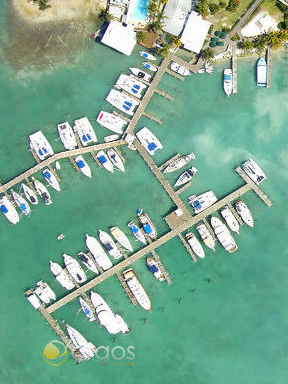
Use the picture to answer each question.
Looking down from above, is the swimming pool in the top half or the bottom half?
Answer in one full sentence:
The swimming pool is in the top half of the image.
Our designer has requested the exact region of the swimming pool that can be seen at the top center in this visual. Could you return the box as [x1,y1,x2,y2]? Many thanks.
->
[127,0,151,28]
